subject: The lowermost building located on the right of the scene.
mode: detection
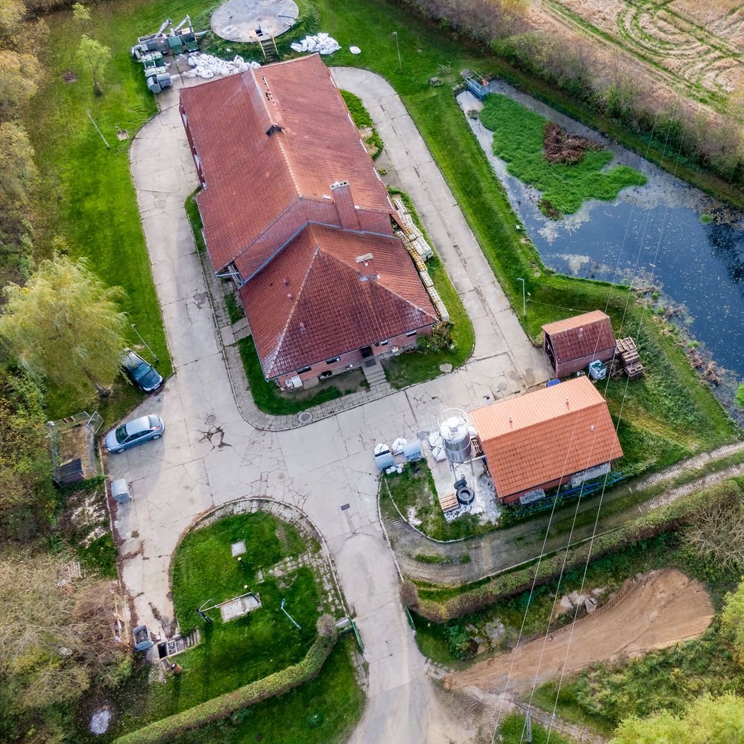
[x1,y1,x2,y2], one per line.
[467,375,625,505]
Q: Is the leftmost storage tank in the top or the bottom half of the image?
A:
top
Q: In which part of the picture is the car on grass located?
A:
left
